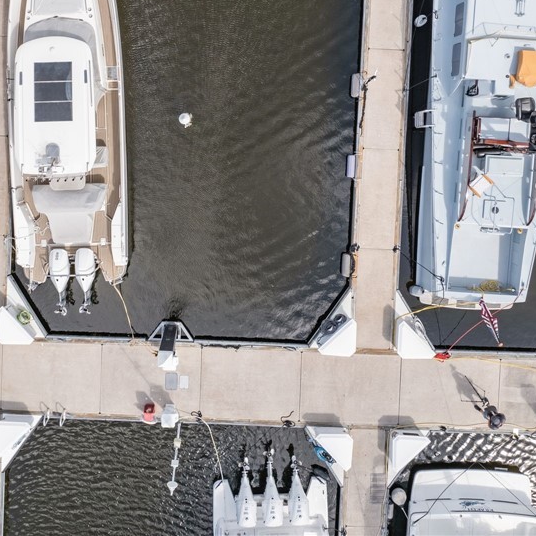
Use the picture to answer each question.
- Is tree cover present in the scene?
No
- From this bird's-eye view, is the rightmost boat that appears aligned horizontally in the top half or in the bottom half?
bottom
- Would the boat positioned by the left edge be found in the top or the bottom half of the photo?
top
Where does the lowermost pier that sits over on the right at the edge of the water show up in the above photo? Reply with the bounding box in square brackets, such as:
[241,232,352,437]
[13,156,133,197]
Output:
[333,430,391,536]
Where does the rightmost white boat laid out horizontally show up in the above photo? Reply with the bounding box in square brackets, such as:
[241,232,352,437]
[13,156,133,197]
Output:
[392,467,536,536]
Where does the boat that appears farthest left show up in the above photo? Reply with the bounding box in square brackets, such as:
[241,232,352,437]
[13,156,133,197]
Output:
[8,0,130,318]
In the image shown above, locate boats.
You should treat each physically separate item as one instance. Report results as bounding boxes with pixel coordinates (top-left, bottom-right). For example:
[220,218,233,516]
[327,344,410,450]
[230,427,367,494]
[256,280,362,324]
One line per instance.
[212,442,330,536]
[392,467,536,536]
[8,0,130,318]
[408,0,536,311]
